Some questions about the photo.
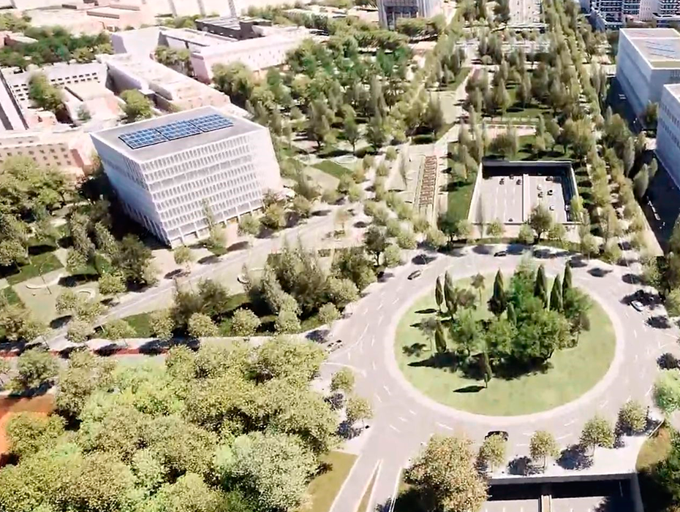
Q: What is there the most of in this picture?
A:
trees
